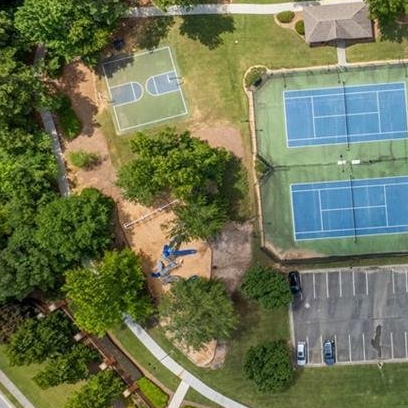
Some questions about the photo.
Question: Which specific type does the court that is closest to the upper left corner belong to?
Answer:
basketball court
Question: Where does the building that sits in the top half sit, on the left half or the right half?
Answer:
right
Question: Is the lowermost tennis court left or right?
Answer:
right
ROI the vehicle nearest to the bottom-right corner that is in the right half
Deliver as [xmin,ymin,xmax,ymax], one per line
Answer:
[323,339,335,364]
